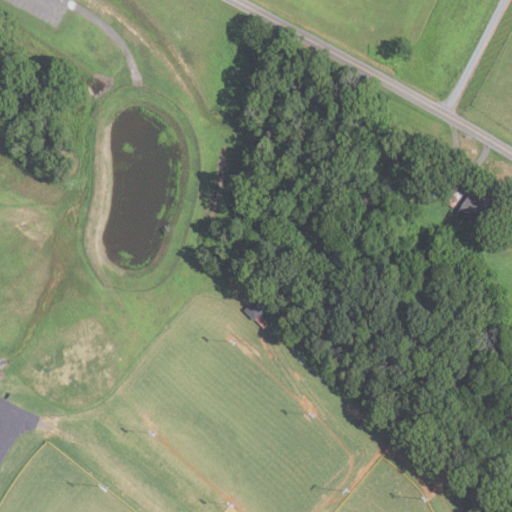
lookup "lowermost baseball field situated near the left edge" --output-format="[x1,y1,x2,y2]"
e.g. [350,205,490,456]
[0,444,131,512]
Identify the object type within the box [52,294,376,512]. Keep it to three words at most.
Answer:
sports field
